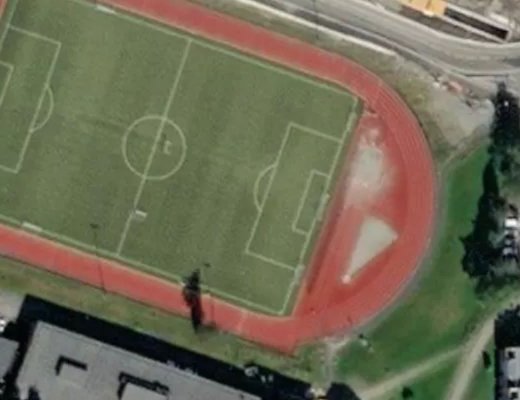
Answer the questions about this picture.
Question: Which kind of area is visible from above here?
sports ground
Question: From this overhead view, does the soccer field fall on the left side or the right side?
left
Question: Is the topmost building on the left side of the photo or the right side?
right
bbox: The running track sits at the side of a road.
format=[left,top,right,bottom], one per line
[0,0,438,356]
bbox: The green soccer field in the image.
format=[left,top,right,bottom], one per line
[0,0,363,316]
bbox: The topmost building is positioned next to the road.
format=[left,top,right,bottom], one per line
[398,0,510,43]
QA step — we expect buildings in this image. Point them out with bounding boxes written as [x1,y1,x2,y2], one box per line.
[0,338,18,385]
[494,345,520,400]
[398,0,510,43]
[5,320,269,400]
